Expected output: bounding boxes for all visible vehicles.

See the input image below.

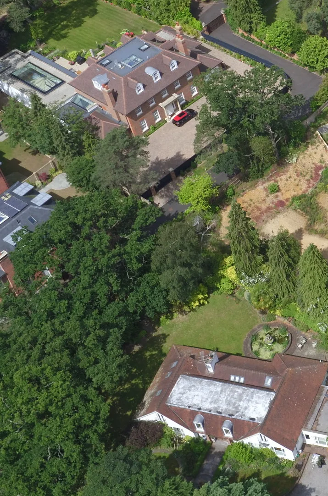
[172,109,198,128]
